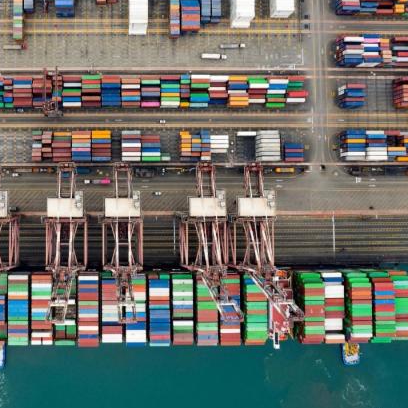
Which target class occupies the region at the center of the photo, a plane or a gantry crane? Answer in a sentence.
Visible at the center of the photo is a gantry crane.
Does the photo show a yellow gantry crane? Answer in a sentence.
No, there's no yellow gantry crane here.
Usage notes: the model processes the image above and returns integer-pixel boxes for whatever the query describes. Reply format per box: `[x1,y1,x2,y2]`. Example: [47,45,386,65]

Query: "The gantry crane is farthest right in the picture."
[217,159,305,323]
